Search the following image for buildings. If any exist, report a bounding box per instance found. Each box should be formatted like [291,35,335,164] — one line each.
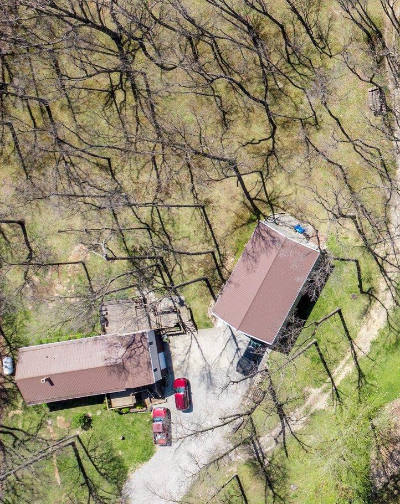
[13,328,170,405]
[212,220,324,344]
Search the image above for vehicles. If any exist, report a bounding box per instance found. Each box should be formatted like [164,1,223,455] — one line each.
[153,407,171,448]
[172,377,191,411]
[237,339,263,372]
